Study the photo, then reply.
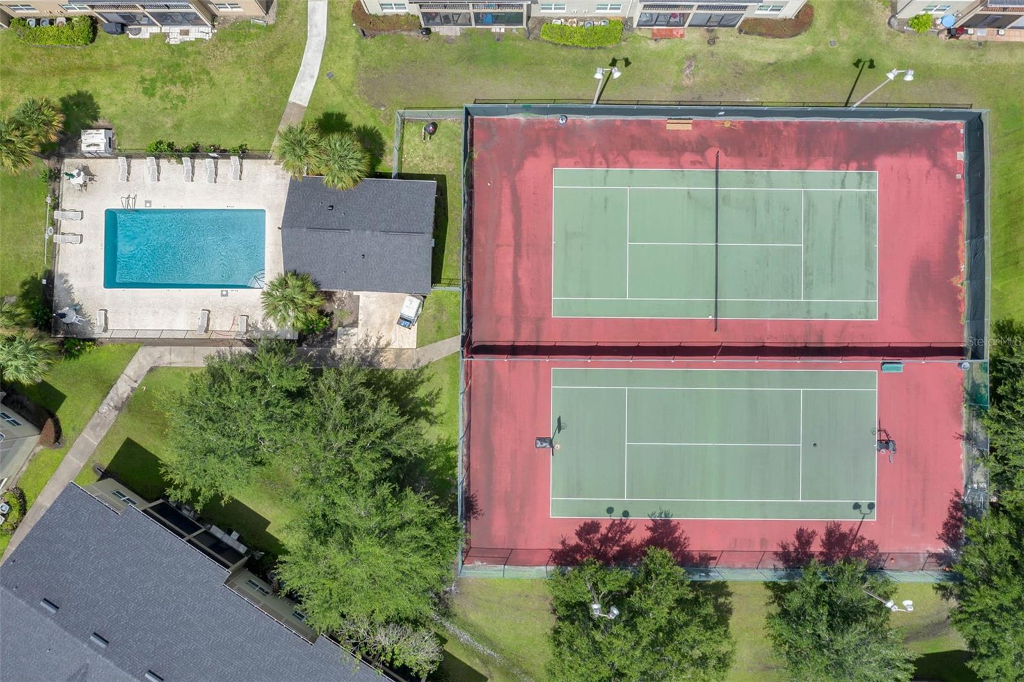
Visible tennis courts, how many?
2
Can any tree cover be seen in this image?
Yes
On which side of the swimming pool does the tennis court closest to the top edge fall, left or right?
to the right of it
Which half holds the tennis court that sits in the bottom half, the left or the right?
right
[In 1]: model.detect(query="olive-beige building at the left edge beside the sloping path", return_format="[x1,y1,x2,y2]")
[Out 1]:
[0,391,42,484]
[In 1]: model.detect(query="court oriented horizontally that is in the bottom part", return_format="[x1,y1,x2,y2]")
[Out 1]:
[468,359,964,569]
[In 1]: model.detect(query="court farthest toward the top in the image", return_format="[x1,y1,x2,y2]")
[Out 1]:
[470,120,964,360]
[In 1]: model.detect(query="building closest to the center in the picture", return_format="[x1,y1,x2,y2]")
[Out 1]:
[275,176,436,295]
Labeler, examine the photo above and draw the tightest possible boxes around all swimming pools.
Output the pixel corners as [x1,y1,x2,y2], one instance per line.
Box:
[97,200,267,297]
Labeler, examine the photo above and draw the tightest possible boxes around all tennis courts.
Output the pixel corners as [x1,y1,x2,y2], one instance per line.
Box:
[468,359,964,569]
[470,120,964,360]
